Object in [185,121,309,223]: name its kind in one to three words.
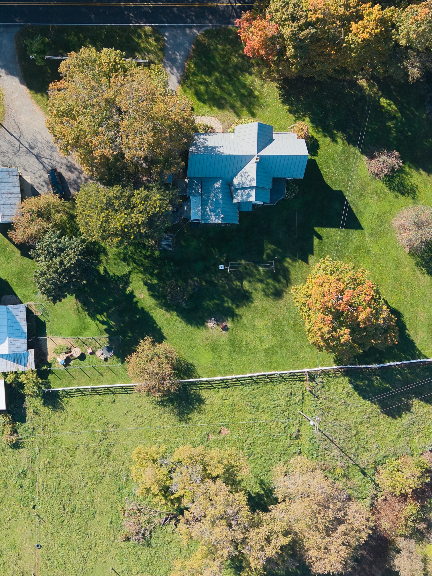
house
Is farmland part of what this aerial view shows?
Yes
